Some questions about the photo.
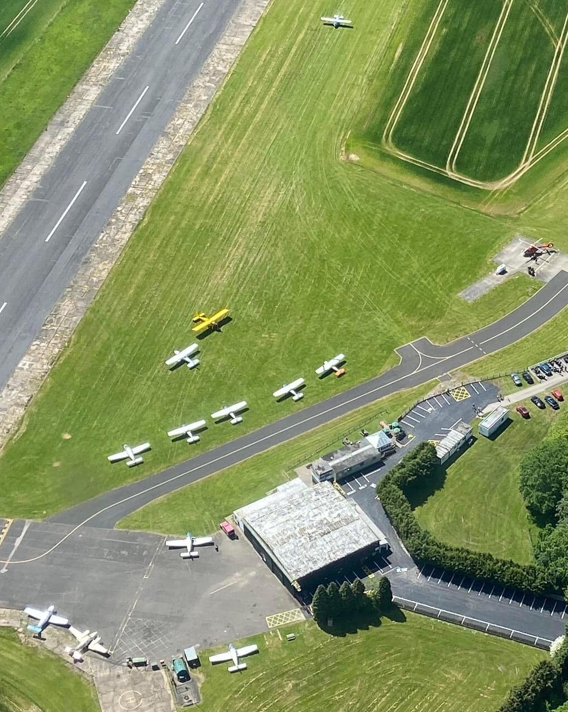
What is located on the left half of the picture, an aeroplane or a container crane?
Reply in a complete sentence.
Visible on the left half of the picture is an aeroplane.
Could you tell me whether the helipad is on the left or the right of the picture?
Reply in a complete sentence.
The helipad sits on the right side.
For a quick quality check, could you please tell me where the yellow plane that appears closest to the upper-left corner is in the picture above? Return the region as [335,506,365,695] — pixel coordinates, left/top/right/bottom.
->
[192,311,227,333]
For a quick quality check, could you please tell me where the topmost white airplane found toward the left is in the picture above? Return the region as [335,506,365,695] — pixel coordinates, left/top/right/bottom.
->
[165,344,200,367]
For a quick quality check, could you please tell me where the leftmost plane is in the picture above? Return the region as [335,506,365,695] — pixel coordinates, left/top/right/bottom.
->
[21,603,74,632]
